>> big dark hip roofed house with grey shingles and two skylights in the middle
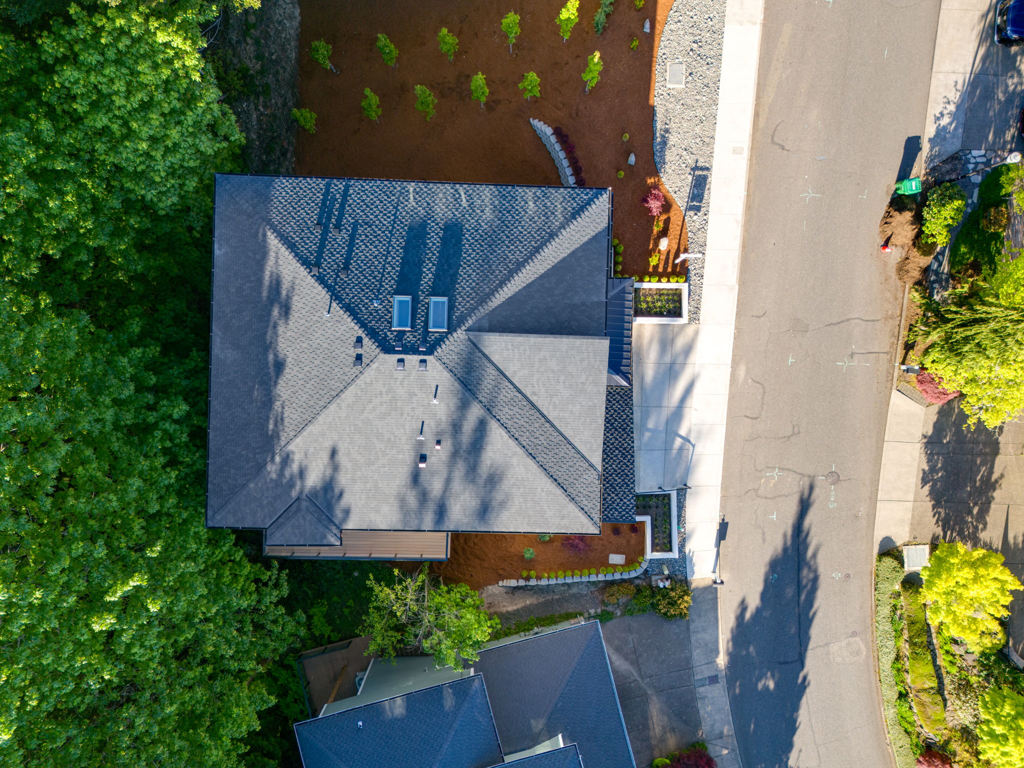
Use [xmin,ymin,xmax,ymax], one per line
[204,175,638,560]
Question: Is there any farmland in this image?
No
